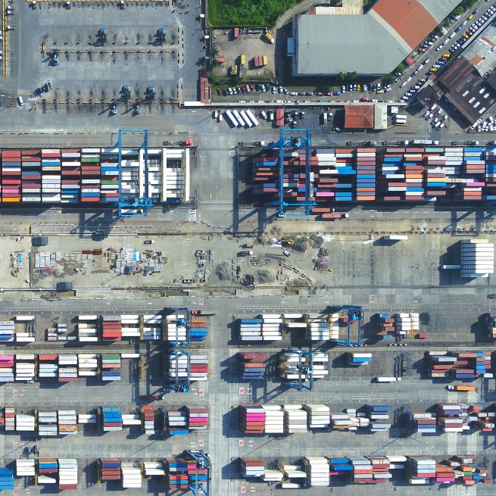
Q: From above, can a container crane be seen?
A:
Yes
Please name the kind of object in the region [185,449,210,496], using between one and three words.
crane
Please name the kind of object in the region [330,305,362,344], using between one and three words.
crane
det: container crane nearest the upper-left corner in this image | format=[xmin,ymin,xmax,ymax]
[109,129,154,216]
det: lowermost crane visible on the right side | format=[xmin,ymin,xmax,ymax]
[283,347,313,389]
